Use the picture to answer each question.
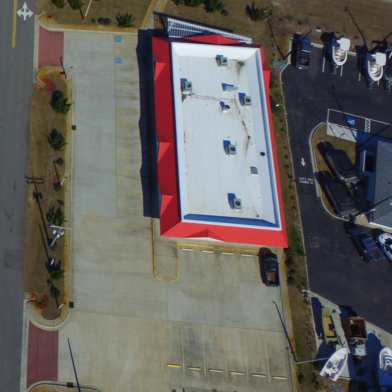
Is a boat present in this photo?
Yes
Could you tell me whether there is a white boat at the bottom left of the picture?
No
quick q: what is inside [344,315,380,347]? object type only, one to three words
trailer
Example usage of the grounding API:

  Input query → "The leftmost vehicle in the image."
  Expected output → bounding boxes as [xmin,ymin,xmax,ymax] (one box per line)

[262,251,281,289]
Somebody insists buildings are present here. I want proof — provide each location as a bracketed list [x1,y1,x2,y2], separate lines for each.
[151,32,288,247]
[358,140,392,237]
